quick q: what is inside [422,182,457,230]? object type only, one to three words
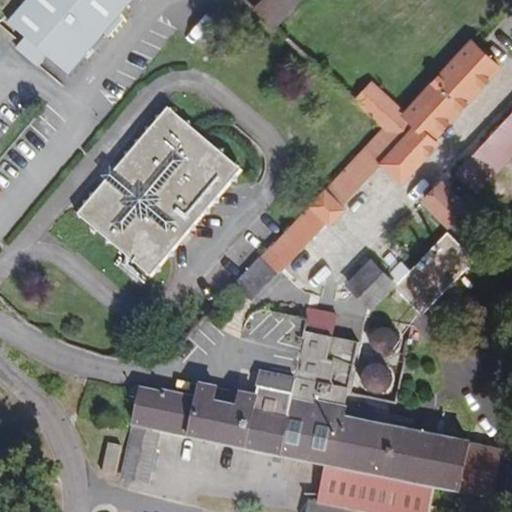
house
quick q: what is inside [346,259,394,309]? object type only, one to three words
house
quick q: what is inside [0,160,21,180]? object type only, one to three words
car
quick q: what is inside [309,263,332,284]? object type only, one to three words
vehicle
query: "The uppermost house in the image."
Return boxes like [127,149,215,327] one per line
[252,0,312,34]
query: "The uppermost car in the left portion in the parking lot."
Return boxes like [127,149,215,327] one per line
[128,54,148,68]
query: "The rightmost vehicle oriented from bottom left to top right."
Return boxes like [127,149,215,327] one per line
[408,178,430,200]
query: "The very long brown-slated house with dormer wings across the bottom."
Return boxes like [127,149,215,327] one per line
[122,369,502,512]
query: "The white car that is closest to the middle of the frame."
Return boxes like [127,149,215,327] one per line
[246,232,263,248]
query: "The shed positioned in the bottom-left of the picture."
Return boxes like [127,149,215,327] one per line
[102,442,121,473]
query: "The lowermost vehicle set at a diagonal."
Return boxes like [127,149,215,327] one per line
[478,414,498,435]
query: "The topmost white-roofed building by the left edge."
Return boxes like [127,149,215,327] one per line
[9,0,140,76]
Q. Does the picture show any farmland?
No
